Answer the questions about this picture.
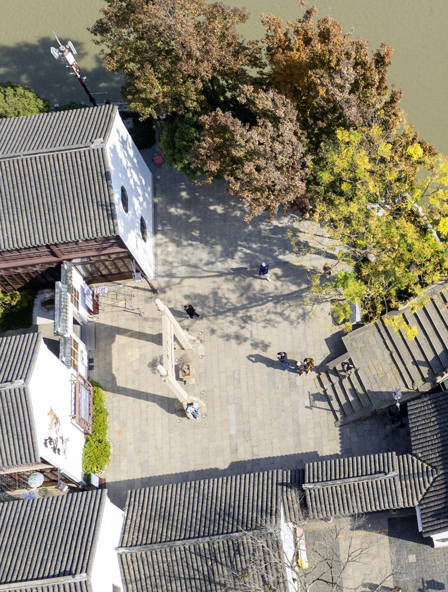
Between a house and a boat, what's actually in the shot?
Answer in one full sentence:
I can see a house in this picture.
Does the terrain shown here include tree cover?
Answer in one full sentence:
Yes, the picture does contain tree cover.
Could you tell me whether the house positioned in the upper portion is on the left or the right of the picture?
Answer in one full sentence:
You can find the house positioned in the upper portion on the left side of the picture.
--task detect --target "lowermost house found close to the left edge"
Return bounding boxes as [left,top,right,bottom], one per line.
[0,489,123,592]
